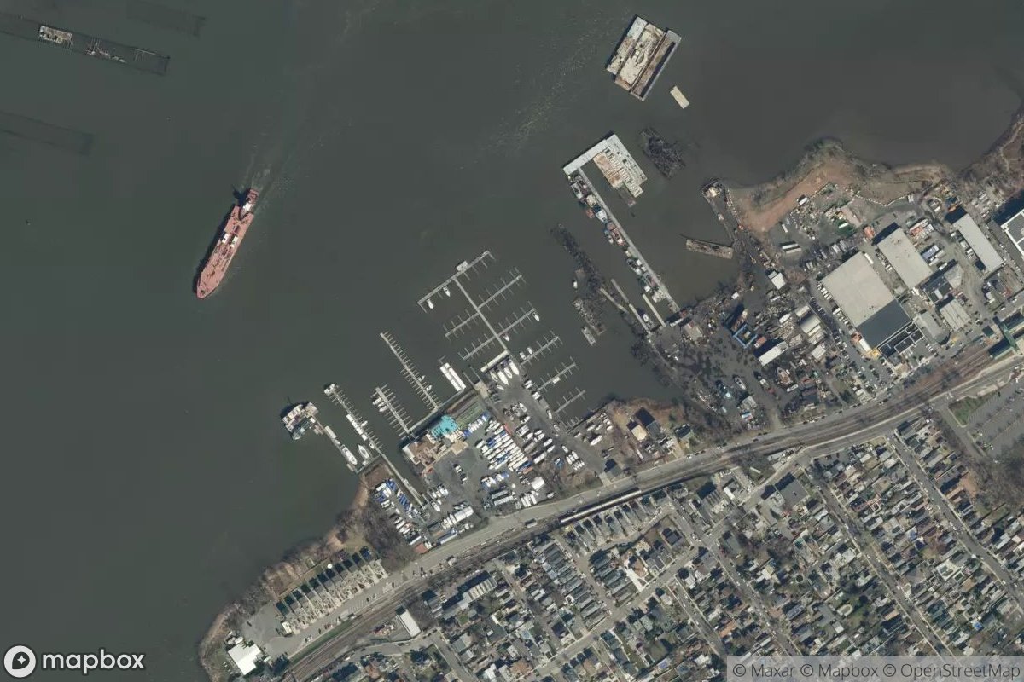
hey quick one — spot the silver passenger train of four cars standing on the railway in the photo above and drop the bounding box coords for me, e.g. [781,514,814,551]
[561,489,640,522]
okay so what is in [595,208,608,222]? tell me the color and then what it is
white ship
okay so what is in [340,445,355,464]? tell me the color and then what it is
white ship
